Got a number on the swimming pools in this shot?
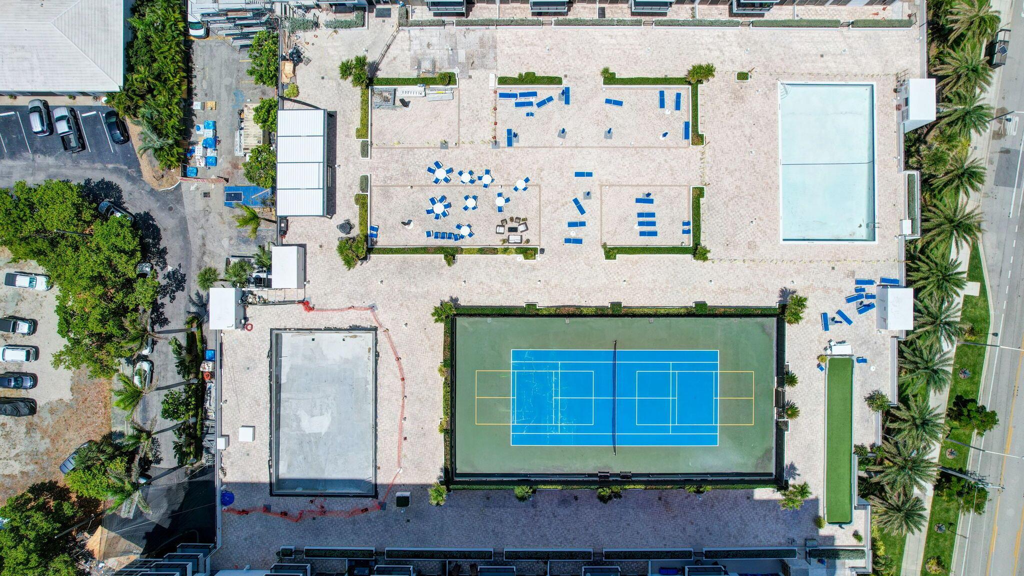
2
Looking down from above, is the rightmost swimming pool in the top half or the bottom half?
top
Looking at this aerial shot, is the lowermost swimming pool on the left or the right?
left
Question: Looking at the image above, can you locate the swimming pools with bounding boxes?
[268,324,380,499]
[778,76,881,245]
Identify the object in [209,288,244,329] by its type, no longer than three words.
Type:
shed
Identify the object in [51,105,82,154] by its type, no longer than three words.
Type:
truck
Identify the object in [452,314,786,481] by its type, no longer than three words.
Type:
tennis court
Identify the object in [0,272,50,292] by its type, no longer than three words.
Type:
vehicle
